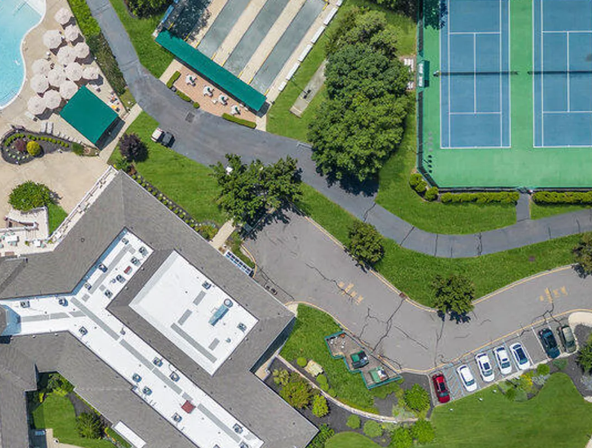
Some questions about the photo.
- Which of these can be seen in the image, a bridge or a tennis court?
tennis court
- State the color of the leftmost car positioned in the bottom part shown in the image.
red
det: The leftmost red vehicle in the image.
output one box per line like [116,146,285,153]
[429,371,451,404]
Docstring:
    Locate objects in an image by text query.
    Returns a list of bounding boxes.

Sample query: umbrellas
[42,29,63,50]
[71,41,90,60]
[64,63,81,81]
[26,95,47,116]
[57,47,76,65]
[62,23,81,43]
[31,58,51,78]
[53,5,74,27]
[30,76,49,93]
[58,80,79,101]
[80,62,102,83]
[48,68,67,88]
[44,90,62,109]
